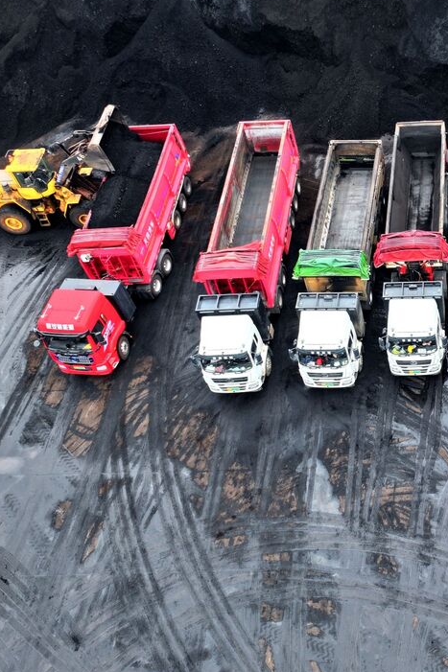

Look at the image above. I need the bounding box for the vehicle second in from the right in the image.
[283,139,386,387]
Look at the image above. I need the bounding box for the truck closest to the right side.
[373,120,448,374]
